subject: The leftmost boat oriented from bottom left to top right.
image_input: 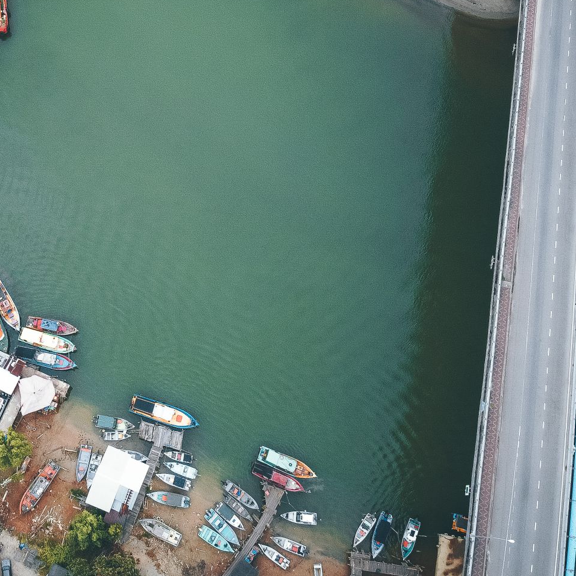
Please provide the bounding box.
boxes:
[18,460,59,515]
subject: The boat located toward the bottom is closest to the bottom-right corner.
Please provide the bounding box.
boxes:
[450,515,463,532]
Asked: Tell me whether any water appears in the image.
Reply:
Yes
